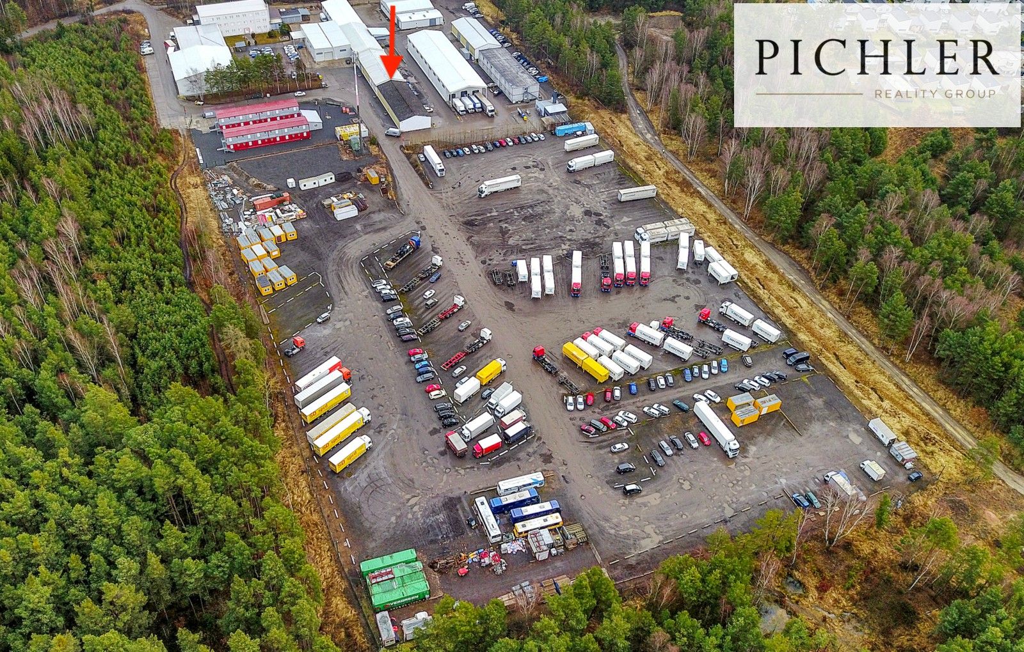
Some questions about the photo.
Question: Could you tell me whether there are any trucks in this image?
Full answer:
Yes, this view includes a truck.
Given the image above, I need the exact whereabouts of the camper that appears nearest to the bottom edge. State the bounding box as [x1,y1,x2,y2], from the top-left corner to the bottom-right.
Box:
[403,616,432,637]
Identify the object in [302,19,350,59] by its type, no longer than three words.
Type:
building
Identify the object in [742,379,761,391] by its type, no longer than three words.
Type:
vehicle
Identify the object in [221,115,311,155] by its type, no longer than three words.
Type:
building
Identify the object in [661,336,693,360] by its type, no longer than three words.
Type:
vehicle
